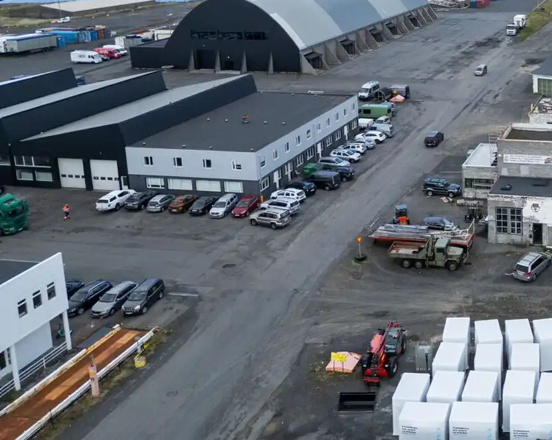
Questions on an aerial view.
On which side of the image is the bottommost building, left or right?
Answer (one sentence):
You can find the bottommost building on the left side of the picture.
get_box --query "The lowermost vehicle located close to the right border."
[510,250,552,282]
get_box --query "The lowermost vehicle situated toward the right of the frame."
[363,318,409,386]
